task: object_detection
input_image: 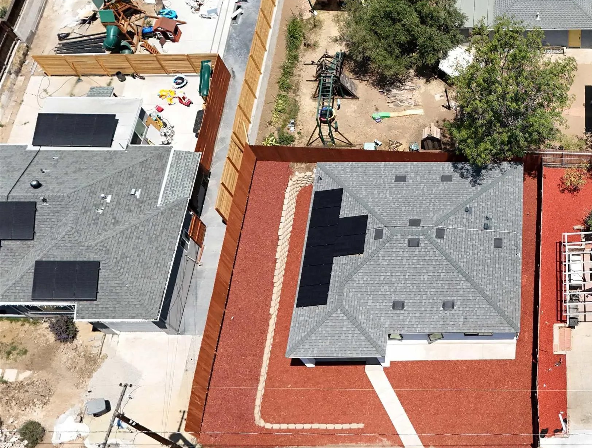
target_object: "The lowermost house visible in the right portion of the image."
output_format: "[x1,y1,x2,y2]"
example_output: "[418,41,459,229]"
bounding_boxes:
[283,161,525,368]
